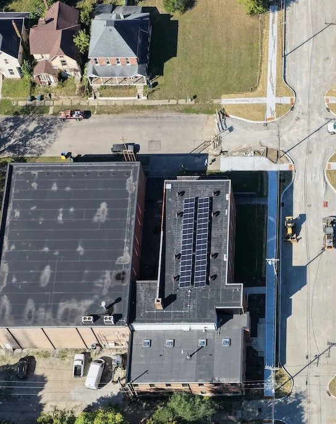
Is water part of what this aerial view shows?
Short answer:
No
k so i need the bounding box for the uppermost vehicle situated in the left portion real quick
[58,110,87,123]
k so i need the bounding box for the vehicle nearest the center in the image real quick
[107,141,141,156]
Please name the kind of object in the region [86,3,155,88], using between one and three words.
house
